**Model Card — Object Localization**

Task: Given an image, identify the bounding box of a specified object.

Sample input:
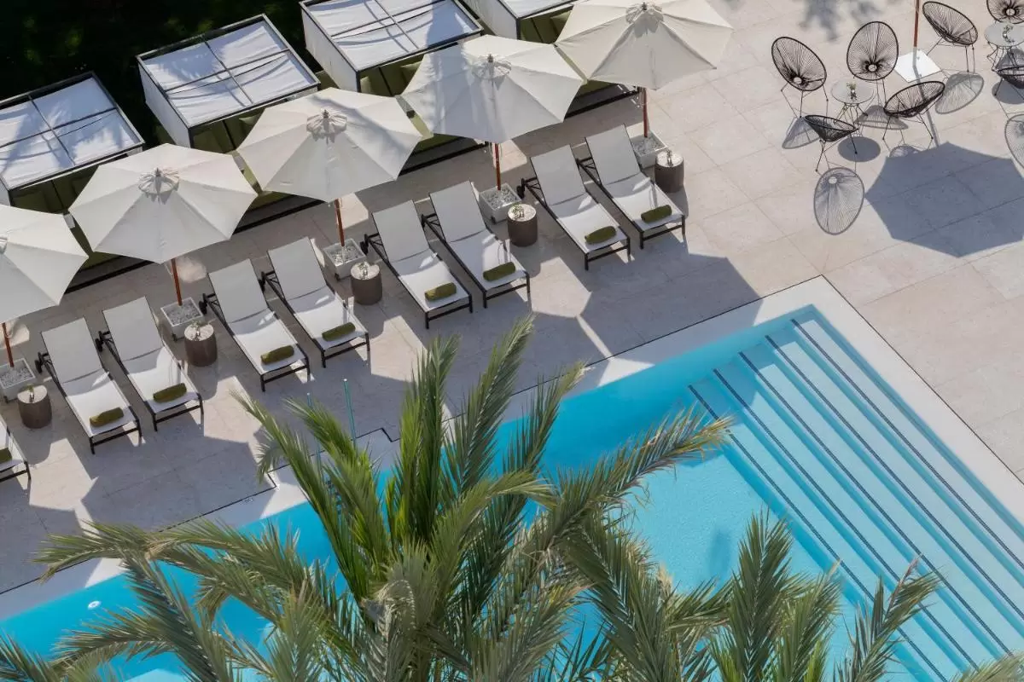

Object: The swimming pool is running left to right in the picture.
[3,310,926,682]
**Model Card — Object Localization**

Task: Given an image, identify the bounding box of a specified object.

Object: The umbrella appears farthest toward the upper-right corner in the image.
[887,0,942,84]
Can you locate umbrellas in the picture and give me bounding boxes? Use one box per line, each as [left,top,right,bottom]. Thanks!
[68,144,259,311]
[236,88,422,253]
[887,0,942,84]
[403,34,585,196]
[0,202,87,372]
[556,0,733,143]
